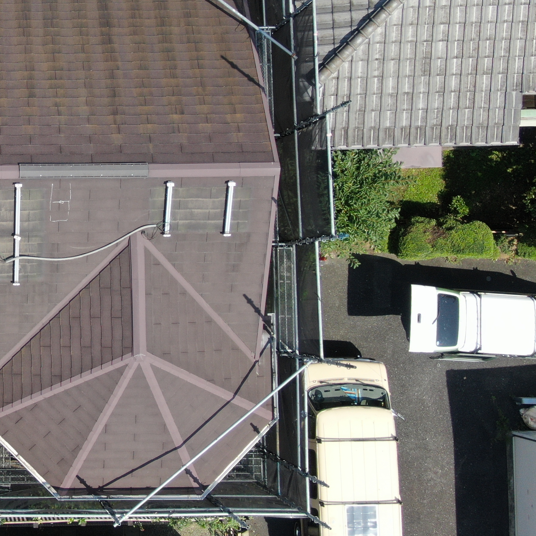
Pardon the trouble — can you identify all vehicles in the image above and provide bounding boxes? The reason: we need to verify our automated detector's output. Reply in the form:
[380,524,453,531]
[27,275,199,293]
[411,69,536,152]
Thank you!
[291,356,409,536]
[412,285,536,370]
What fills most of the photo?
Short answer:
buildings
